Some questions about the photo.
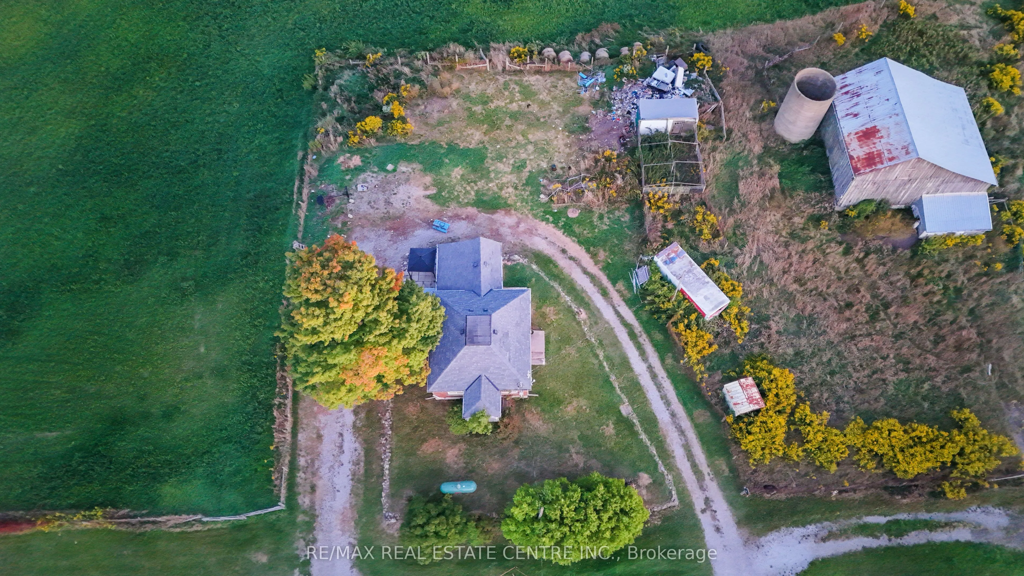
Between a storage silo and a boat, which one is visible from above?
storage silo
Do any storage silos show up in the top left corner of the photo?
No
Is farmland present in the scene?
Yes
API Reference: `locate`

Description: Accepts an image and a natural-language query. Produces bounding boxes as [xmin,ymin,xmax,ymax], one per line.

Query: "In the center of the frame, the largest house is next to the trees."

[424,237,545,422]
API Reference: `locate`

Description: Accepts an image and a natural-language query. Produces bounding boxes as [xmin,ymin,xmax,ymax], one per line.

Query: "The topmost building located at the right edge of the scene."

[820,56,998,208]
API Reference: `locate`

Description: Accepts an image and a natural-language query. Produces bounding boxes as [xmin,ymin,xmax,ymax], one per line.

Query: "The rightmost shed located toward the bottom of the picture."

[722,377,765,416]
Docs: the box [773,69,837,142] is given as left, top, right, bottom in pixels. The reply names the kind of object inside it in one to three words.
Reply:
silo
